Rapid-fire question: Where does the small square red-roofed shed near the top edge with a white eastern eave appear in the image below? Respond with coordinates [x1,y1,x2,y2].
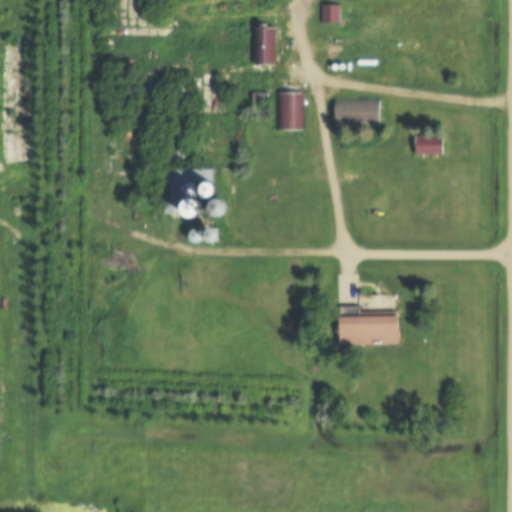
[320,4,342,22]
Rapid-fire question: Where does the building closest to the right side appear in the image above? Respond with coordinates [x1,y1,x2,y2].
[415,135,444,158]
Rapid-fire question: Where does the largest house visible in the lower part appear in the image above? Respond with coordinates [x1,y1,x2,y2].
[338,306,400,345]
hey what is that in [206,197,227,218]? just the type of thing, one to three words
silo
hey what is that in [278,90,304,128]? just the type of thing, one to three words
barn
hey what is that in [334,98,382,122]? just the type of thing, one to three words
shed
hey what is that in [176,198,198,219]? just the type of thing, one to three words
silo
